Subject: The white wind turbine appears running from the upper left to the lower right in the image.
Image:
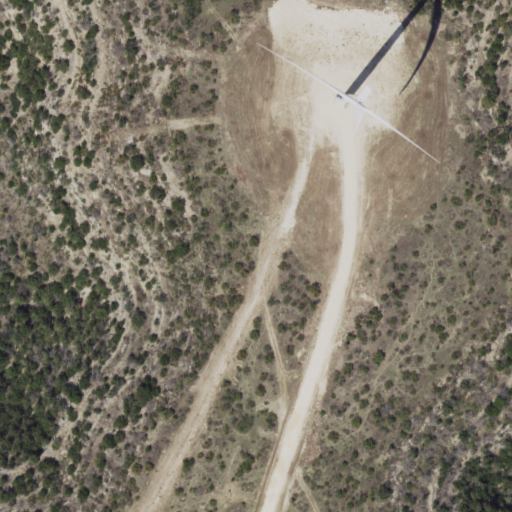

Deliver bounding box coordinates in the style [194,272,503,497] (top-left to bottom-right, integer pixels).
[255,41,442,164]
